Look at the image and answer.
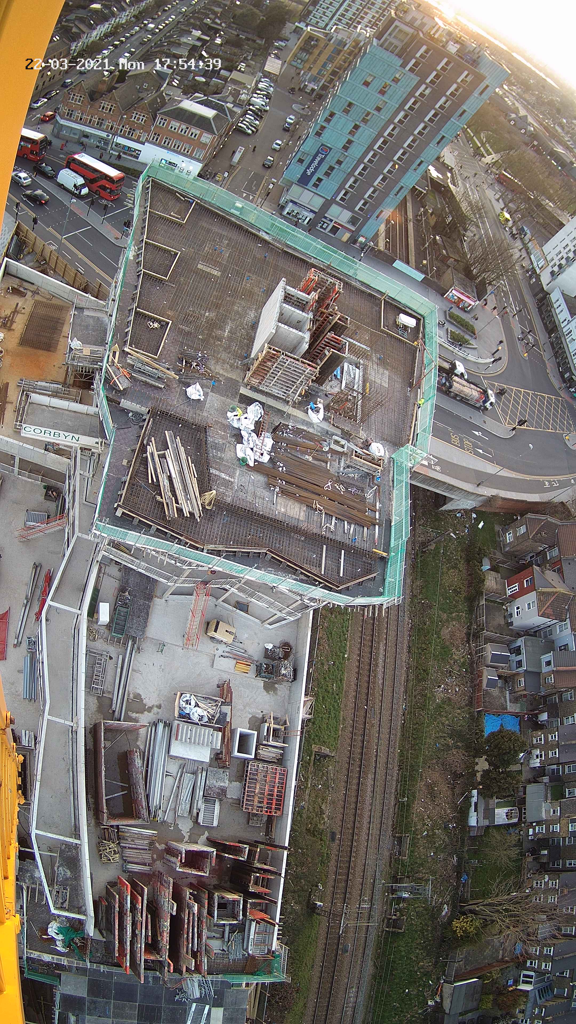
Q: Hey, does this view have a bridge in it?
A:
Yes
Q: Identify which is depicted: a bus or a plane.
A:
bus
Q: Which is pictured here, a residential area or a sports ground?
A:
residential area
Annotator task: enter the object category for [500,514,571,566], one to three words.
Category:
house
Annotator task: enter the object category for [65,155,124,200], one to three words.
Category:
bus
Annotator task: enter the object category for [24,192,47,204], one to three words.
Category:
vehicle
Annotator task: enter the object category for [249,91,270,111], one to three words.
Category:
vehicle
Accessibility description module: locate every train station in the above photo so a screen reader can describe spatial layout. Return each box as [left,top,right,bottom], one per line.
[406,186,433,275]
